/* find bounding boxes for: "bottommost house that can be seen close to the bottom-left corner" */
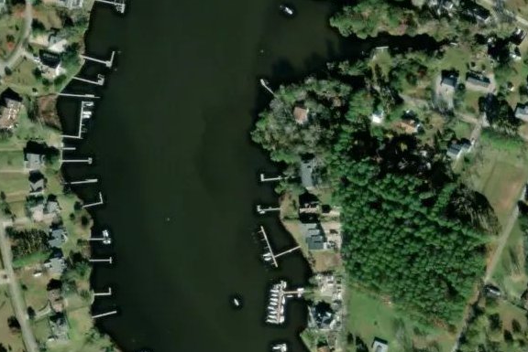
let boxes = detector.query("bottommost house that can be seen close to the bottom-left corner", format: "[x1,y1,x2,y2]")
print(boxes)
[48,317,69,341]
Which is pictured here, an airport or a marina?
marina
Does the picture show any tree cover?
Yes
